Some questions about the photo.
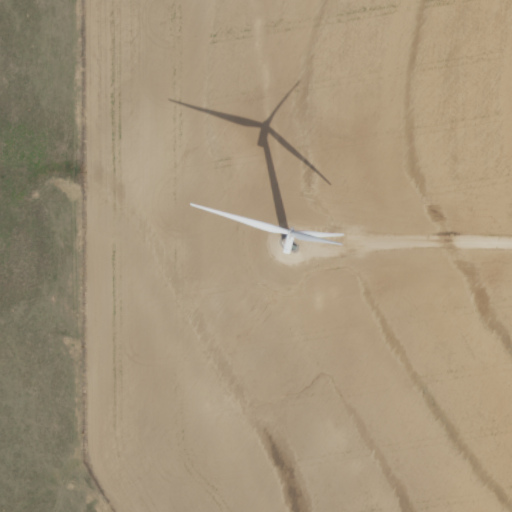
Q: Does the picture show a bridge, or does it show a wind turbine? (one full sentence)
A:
The one in the frame is a wind turbine.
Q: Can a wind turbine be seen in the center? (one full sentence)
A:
Yes, there is a wind turbine in the center.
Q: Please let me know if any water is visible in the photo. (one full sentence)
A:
No, the picture contains no water.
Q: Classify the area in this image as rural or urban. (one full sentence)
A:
The area shown here is rural.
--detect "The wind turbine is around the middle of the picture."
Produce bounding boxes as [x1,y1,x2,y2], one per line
[190,204,344,254]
